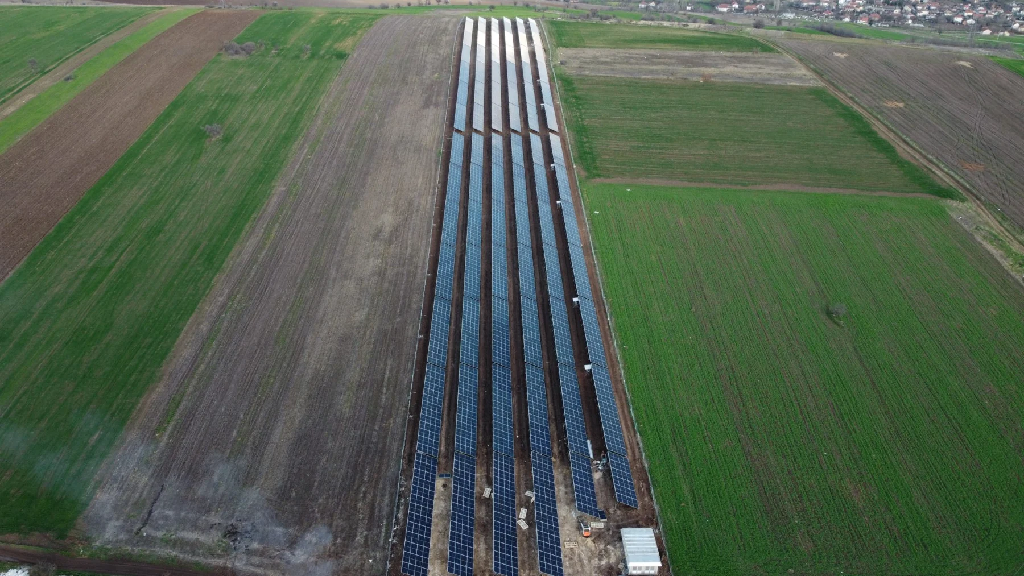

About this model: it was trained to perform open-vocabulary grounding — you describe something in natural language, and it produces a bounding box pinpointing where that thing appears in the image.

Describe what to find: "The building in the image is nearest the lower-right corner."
[622,529,661,576]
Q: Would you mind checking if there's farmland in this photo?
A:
Yes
